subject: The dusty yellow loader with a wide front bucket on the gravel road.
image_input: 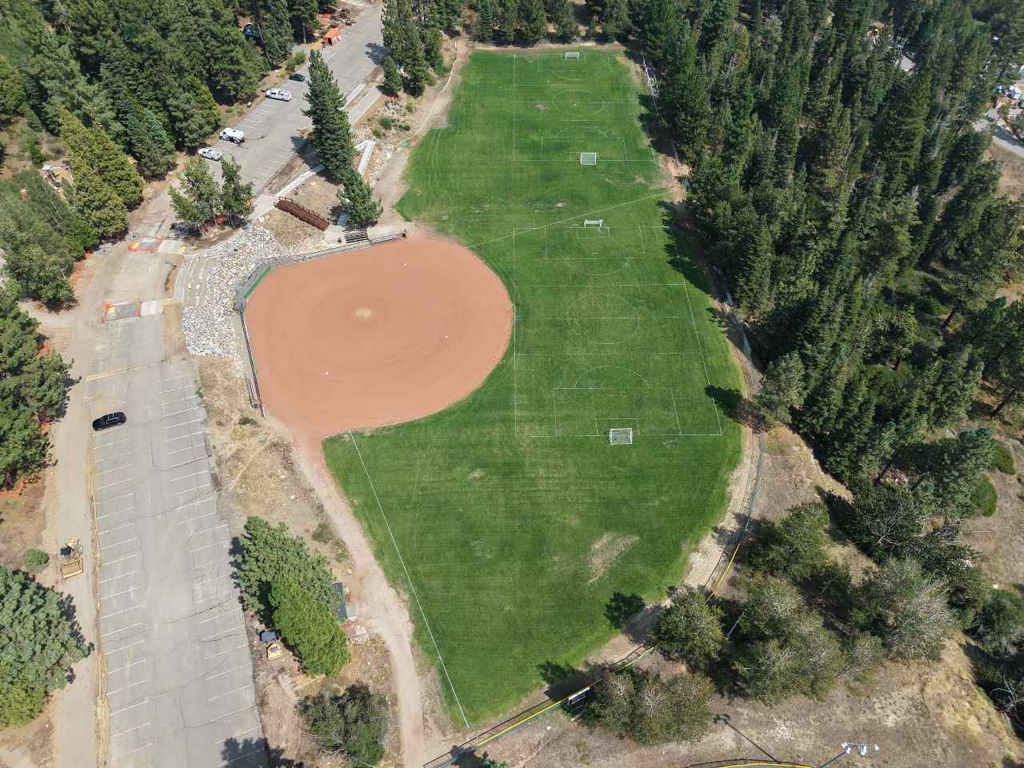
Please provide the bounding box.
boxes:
[56,539,82,583]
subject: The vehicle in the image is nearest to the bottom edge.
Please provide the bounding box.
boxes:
[256,622,281,661]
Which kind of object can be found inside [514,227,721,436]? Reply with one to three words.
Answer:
soccer field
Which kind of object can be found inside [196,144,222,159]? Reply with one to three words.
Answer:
vehicle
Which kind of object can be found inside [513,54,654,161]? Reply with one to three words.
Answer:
soccer field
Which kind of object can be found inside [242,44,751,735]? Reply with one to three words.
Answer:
baseball field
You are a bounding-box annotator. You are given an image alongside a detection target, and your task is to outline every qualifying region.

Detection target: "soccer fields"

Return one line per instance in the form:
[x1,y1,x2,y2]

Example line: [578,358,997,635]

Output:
[513,54,654,161]
[514,227,721,436]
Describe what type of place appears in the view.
sports ground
